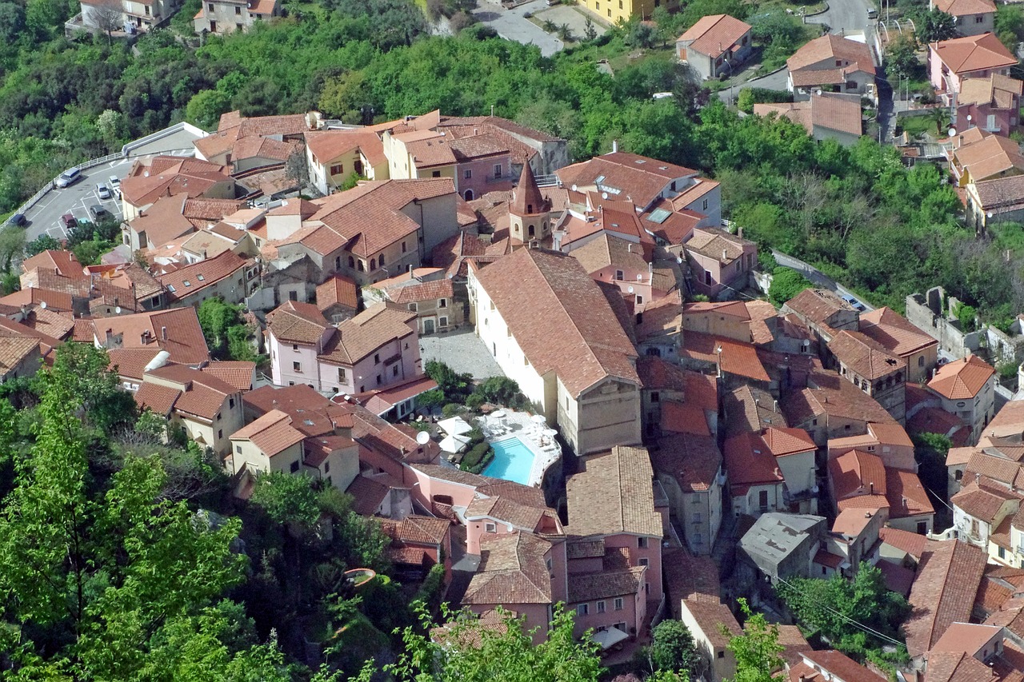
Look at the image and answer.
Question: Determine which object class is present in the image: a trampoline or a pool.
pool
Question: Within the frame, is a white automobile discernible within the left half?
Yes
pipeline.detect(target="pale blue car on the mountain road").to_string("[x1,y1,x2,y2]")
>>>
[841,288,868,311]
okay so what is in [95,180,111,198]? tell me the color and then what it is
white car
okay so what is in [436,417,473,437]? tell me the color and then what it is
white umbrella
